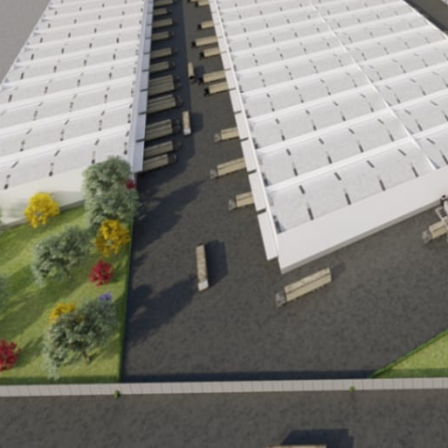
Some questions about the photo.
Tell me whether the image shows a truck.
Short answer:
Yes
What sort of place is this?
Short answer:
industrial area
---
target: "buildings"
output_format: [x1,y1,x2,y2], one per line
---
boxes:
[0,0,155,231]
[208,0,448,273]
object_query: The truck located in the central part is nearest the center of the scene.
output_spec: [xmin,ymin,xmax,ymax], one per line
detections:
[227,190,252,212]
